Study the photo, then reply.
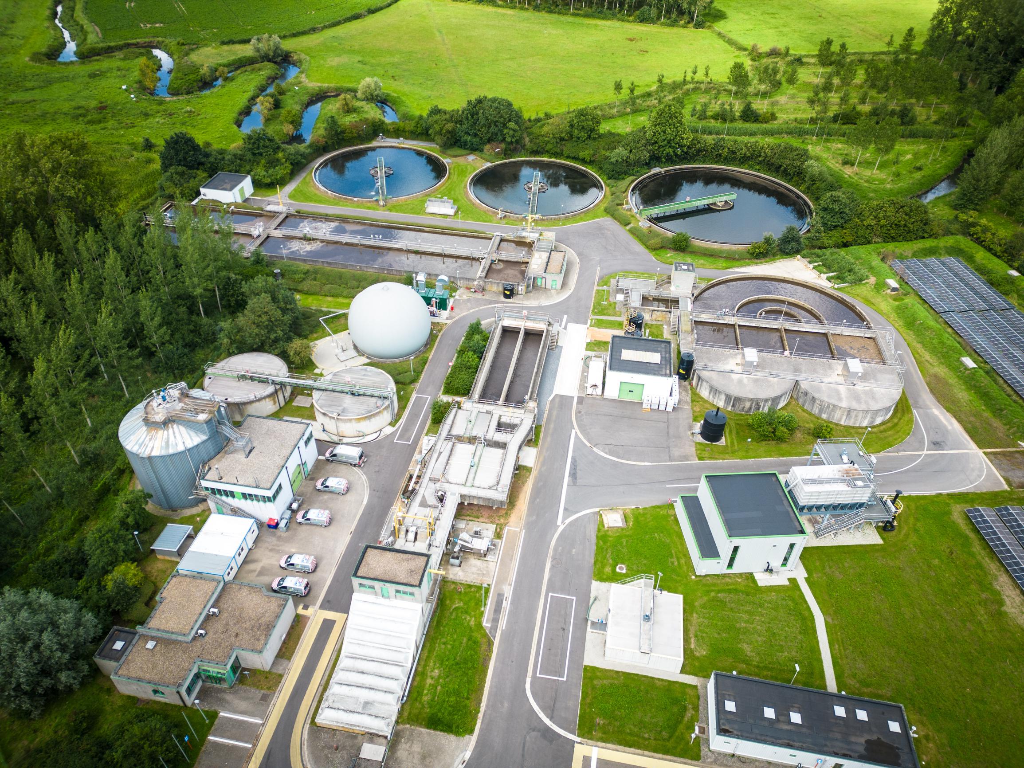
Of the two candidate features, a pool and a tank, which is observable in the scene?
tank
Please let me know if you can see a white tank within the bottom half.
Yes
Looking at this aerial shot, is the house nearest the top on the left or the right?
left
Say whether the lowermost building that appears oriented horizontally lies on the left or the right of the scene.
right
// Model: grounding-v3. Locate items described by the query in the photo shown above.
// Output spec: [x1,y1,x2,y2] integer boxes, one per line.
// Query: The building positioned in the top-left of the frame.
[200,172,253,202]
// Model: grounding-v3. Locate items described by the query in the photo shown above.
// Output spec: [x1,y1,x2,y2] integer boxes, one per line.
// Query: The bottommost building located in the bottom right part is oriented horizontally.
[709,671,917,768]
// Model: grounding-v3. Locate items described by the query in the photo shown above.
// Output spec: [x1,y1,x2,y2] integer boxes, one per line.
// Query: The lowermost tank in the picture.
[583,572,683,672]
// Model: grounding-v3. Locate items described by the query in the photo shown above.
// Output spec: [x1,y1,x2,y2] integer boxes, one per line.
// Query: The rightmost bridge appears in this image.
[639,190,738,216]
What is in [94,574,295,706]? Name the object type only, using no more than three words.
building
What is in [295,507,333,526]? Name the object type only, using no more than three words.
vehicle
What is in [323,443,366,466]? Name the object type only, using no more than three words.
vehicle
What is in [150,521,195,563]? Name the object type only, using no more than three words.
shed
